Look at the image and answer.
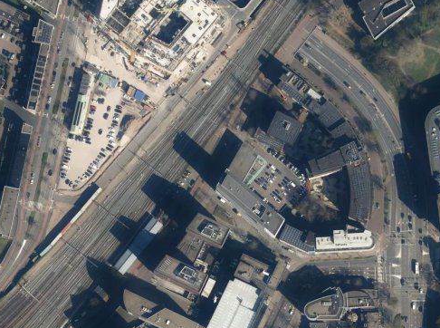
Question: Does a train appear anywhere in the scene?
Yes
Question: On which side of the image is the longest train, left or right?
left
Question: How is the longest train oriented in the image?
on a diagonal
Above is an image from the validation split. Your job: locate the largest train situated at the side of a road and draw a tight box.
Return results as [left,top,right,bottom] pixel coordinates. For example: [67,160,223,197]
[29,188,102,264]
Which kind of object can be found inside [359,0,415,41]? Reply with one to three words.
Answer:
building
